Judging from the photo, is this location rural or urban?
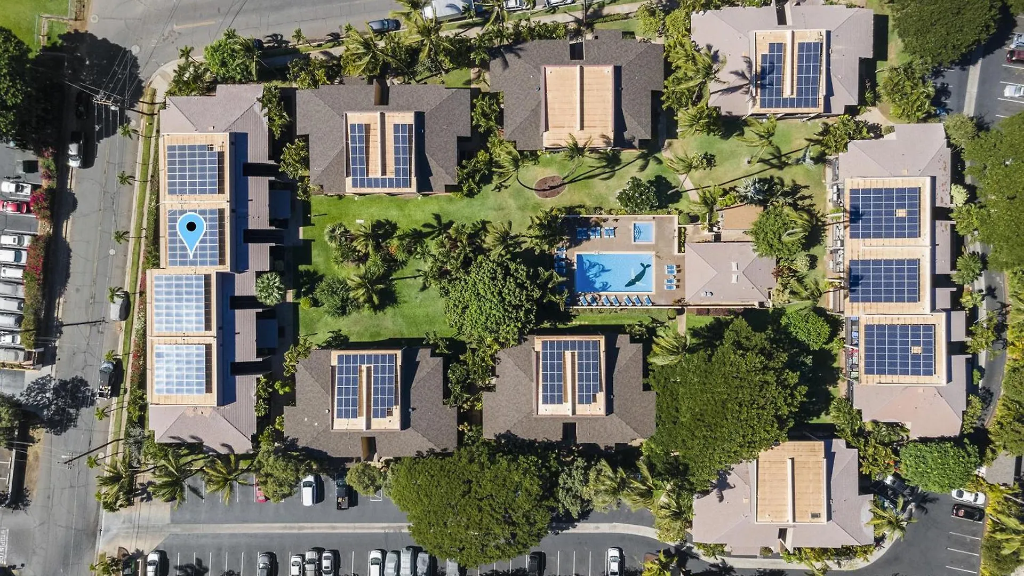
urban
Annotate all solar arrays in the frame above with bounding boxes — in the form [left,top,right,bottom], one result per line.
[542,340,599,404]
[157,344,205,395]
[848,259,919,302]
[337,355,395,418]
[169,144,218,195]
[760,42,821,109]
[350,124,409,188]
[863,324,934,375]
[156,275,206,331]
[849,188,919,238]
[170,209,220,266]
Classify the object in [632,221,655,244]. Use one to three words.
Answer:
swimming pool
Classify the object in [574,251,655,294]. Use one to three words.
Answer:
swimming pool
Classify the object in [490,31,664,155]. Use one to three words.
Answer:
house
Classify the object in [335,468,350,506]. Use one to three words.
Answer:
vehicle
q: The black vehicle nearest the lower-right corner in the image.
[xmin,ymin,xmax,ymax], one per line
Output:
[949,503,982,520]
